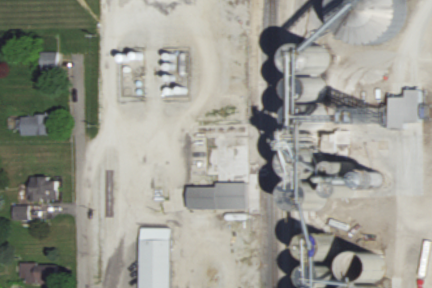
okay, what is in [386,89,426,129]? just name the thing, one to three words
shed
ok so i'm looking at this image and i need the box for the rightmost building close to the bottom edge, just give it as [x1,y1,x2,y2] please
[139,229,174,288]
